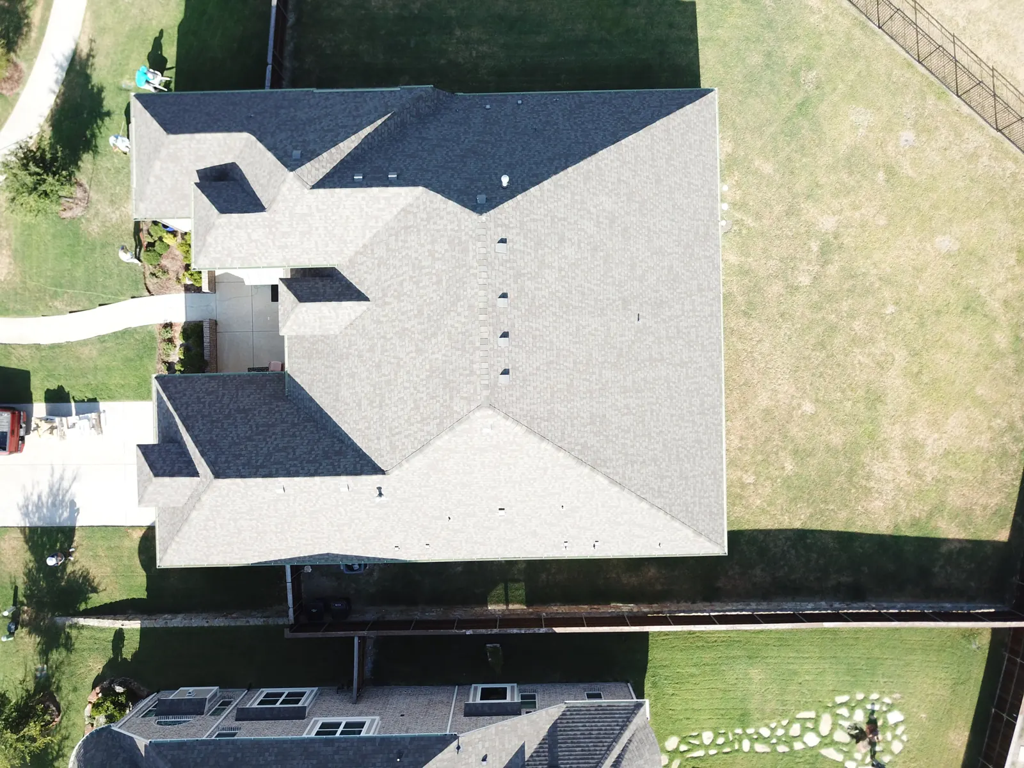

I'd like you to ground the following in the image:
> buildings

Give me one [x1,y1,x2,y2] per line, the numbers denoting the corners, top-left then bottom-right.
[74,681,664,768]
[129,82,730,570]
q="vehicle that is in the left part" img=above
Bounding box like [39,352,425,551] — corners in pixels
[0,408,29,454]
